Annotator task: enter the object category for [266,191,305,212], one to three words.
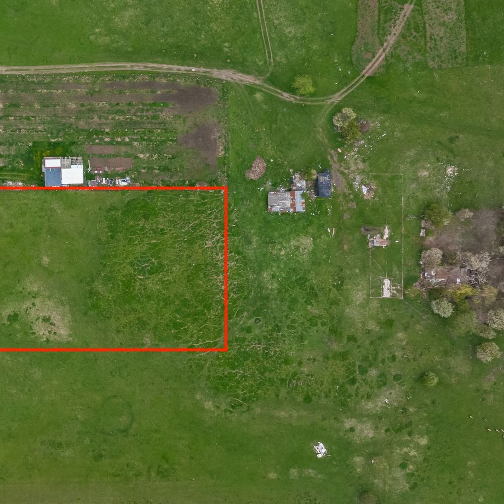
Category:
shed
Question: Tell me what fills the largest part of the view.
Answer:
grass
